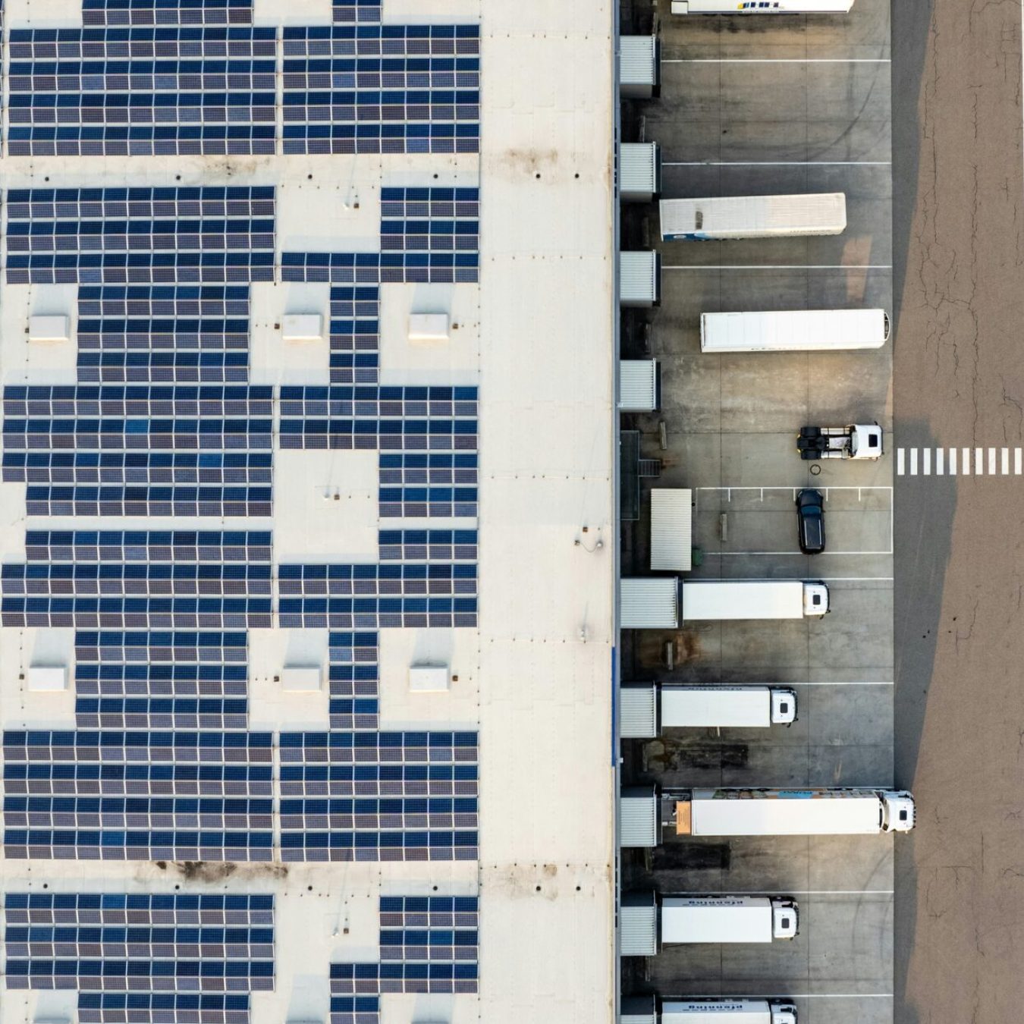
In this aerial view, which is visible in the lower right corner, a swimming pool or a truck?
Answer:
truck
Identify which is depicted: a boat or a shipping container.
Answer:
shipping container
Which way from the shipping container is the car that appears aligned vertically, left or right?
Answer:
right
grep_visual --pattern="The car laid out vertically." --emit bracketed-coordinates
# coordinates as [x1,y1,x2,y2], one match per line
[795,489,826,554]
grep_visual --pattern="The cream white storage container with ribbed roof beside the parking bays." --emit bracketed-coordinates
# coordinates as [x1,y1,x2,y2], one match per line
[648,489,691,570]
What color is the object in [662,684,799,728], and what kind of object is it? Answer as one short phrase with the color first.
white truck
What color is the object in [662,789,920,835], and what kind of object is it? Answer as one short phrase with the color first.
white truck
